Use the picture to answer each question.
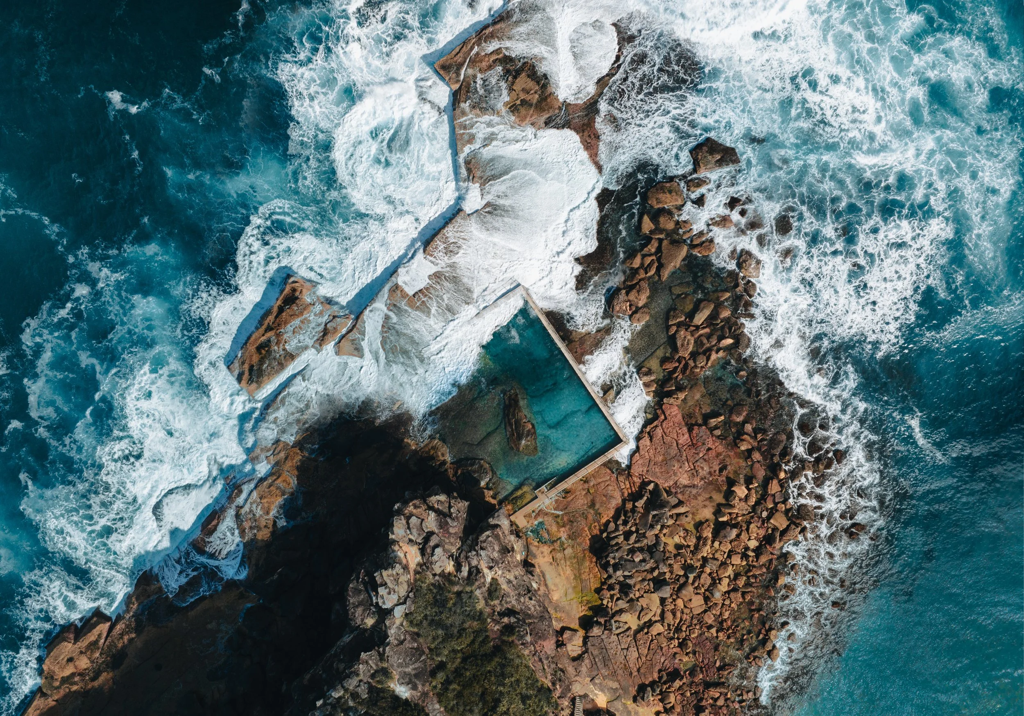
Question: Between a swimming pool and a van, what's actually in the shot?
swimming pool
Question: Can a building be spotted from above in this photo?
No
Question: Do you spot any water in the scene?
Yes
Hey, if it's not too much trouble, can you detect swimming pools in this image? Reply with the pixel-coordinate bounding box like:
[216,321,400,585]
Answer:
[432,293,620,508]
